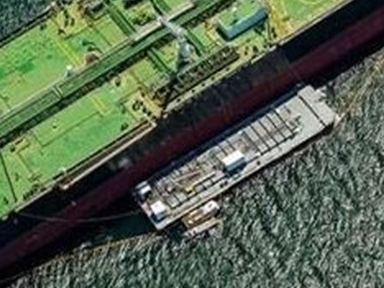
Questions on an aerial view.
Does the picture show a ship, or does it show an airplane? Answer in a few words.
ship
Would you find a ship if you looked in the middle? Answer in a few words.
Yes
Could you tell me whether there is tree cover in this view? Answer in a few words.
No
